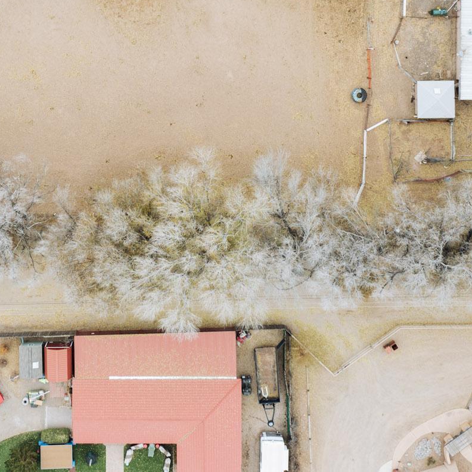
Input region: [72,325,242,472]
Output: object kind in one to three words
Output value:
house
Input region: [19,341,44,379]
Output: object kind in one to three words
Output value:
shed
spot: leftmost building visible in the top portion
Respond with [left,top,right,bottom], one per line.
[411,81,455,118]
